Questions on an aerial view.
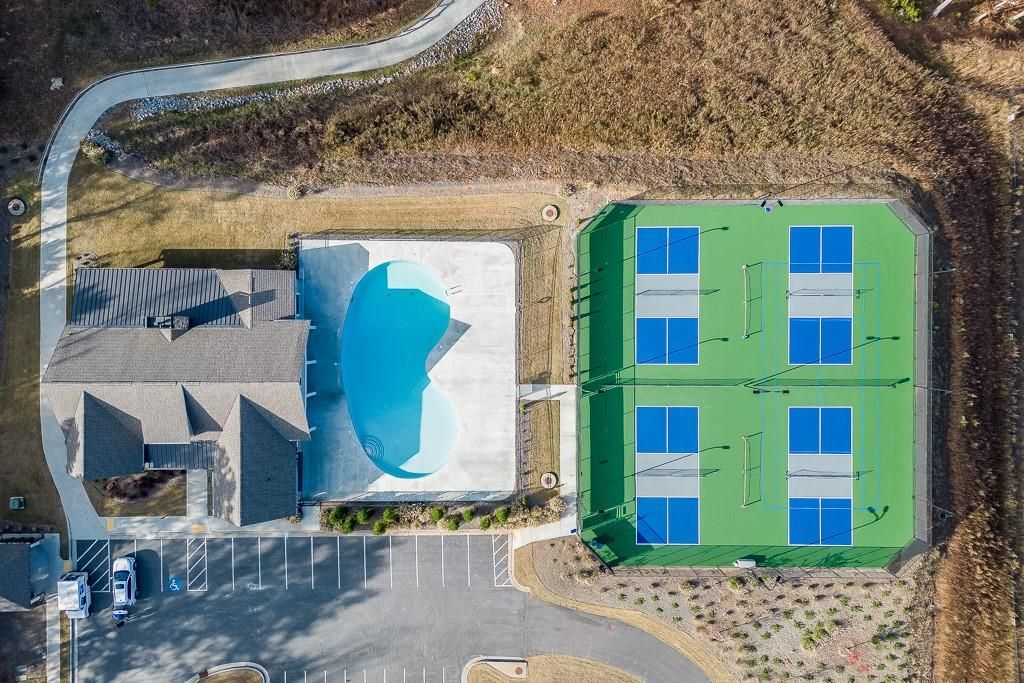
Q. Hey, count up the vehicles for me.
two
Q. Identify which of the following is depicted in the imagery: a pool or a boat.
pool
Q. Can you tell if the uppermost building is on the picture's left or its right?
left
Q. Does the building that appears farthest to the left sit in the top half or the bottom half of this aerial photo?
bottom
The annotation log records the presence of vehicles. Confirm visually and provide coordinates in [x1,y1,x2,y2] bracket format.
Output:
[58,570,93,619]
[109,555,137,613]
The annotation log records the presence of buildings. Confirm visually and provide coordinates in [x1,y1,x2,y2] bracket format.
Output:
[0,538,49,611]
[40,268,318,527]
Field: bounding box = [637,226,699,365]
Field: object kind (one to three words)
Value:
sports court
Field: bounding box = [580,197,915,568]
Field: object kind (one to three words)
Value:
sports court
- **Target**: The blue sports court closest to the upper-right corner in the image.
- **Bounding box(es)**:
[790,225,853,365]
